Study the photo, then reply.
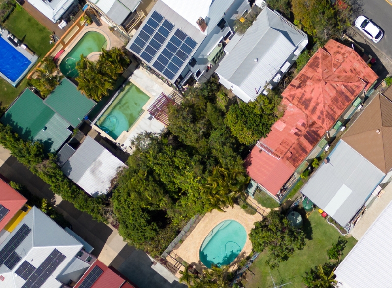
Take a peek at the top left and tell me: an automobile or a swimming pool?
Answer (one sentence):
The one visible at the top left is a swimming pool.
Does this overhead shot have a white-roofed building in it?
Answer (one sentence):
Yes, you can see a white-roofed building in this photo.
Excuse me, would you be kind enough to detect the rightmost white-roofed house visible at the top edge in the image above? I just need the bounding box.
[214,6,307,104]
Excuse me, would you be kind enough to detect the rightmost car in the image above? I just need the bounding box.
[353,16,384,43]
